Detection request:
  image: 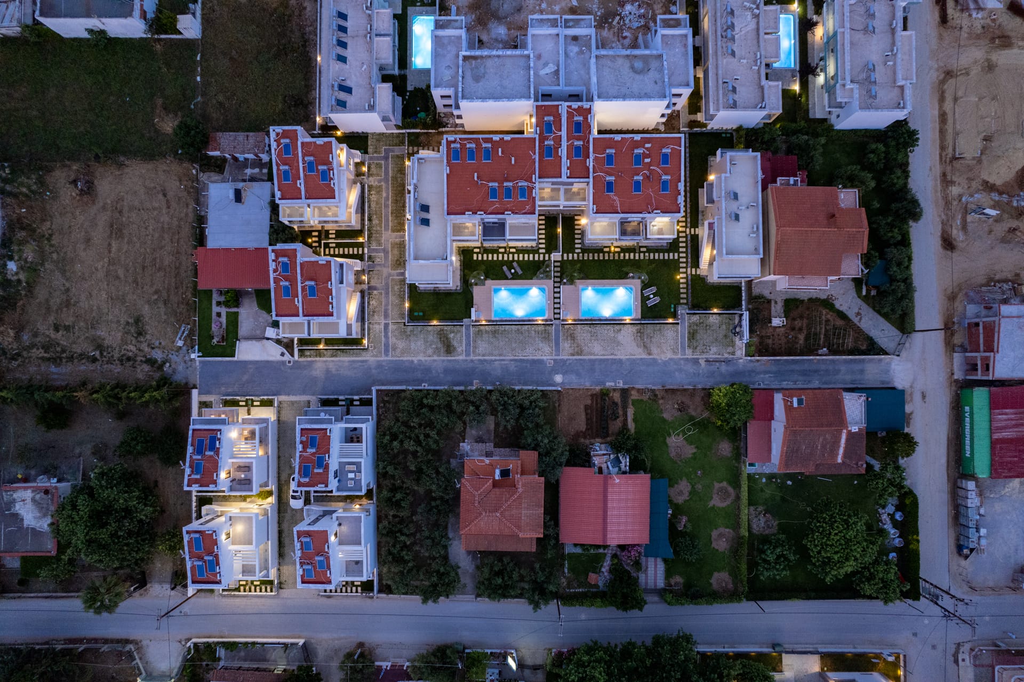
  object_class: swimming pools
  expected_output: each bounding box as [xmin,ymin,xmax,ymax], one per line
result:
[407,6,441,91]
[562,280,641,320]
[474,280,552,320]
[768,4,797,88]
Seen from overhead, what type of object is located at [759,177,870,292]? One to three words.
house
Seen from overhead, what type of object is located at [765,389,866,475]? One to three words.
house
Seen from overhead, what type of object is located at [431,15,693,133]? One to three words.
building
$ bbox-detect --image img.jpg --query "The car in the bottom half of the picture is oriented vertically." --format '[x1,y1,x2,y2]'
[286,475,304,509]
